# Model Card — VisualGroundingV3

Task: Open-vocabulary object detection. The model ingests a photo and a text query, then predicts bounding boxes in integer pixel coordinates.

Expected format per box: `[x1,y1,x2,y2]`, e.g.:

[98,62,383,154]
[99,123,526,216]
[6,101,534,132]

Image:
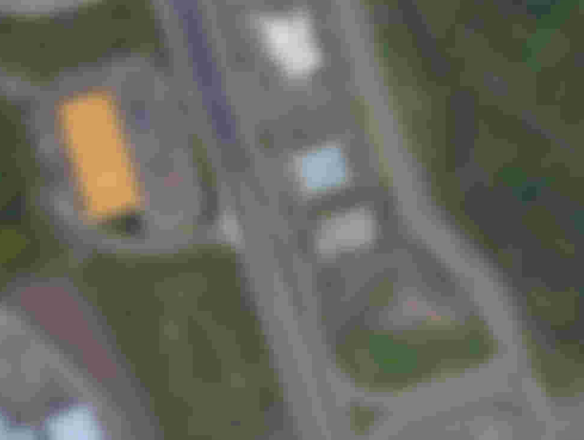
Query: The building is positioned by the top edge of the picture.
[262,12,323,78]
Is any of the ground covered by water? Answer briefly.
No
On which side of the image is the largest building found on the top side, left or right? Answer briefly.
left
